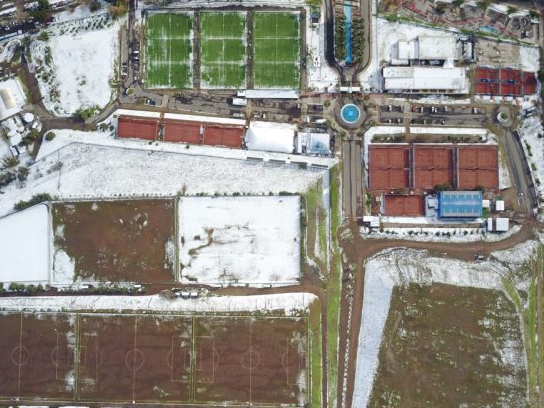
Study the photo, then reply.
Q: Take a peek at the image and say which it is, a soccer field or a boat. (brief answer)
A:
soccer field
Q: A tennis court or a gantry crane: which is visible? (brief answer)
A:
tennis court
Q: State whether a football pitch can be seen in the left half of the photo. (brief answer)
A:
Yes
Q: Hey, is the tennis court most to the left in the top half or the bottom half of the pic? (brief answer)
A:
top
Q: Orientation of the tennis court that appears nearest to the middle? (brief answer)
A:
from left to right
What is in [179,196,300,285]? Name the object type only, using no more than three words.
soccer field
